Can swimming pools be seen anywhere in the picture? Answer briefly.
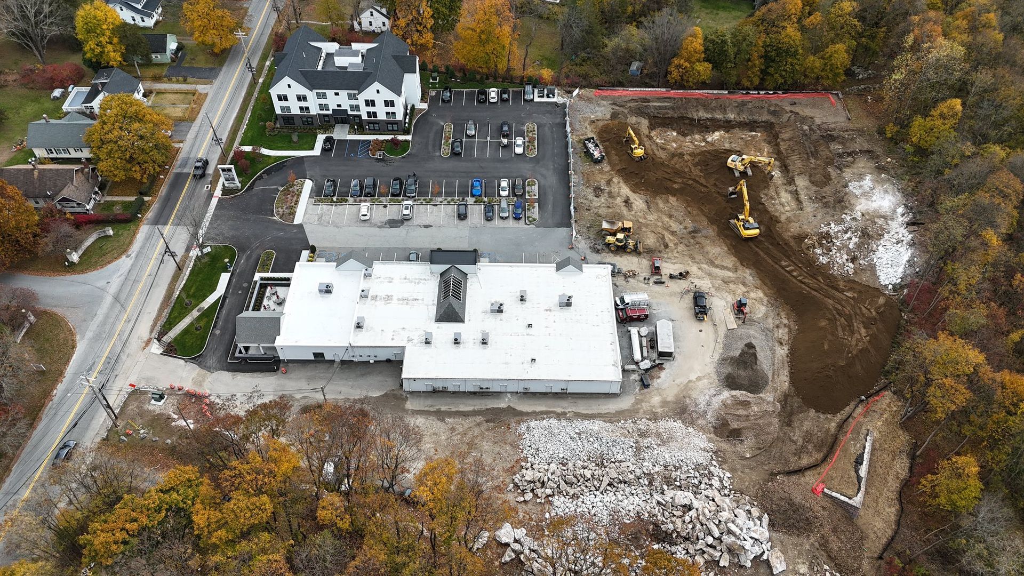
No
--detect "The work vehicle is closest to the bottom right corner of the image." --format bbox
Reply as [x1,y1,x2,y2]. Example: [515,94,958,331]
[732,302,754,324]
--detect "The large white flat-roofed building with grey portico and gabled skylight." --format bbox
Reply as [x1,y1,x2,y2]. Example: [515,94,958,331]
[230,243,624,395]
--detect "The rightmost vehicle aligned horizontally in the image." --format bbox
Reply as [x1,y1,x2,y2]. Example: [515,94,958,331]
[729,151,778,176]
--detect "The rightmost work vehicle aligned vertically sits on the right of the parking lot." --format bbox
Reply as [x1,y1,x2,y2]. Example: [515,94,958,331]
[732,184,762,244]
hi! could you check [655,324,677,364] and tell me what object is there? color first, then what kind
white trailer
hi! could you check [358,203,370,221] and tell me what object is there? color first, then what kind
white vehicle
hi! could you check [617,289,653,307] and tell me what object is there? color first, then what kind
white vehicle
